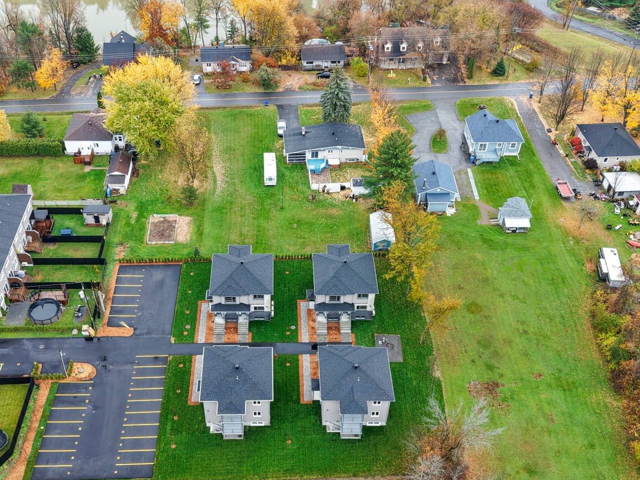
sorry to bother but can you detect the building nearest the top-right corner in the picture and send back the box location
[574,122,640,167]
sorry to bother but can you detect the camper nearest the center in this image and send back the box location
[264,155,276,187]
